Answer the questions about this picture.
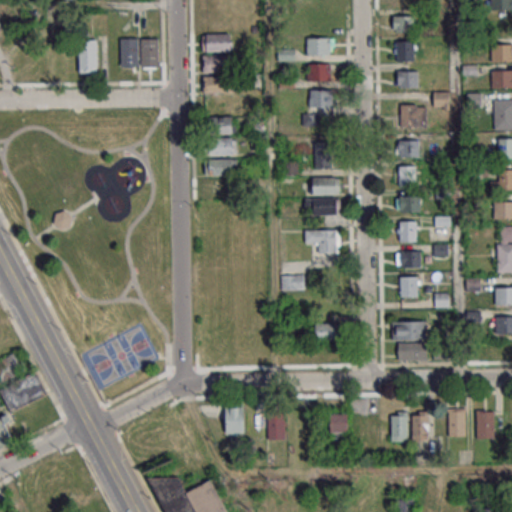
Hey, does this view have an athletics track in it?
No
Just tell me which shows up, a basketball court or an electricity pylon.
basketball court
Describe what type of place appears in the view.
residential area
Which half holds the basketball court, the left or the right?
left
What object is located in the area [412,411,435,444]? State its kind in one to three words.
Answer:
house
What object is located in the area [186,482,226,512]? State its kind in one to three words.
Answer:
building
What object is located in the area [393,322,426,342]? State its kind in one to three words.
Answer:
house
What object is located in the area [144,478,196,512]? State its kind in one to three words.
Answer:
building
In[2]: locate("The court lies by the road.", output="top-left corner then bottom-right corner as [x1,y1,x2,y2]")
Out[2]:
[83,324,159,390]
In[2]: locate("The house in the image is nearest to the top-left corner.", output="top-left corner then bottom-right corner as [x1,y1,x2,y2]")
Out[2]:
[78,39,98,74]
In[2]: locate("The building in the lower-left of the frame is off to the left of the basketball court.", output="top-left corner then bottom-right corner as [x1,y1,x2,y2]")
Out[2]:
[1,376,46,412]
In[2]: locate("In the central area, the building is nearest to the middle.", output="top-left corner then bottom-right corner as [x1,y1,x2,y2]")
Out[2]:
[282,275,306,292]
